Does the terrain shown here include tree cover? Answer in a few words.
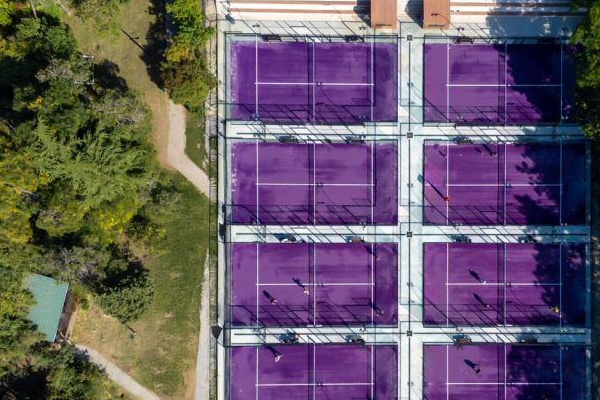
Yes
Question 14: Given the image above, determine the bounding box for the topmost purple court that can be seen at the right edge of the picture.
[422,34,587,126]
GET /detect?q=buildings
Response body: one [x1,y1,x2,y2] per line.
[14,272,77,342]
[423,0,451,31]
[370,0,398,31]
